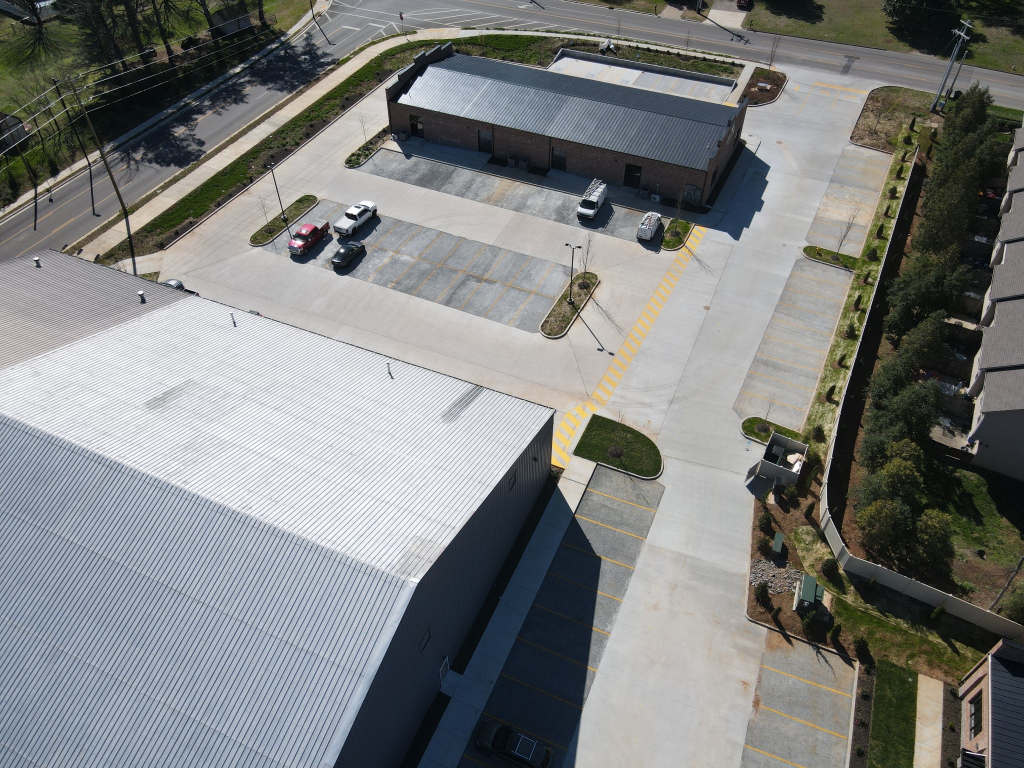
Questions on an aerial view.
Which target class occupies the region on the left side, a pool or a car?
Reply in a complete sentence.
There is a car on the left side.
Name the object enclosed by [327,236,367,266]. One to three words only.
car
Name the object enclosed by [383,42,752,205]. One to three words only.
building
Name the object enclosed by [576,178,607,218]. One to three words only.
van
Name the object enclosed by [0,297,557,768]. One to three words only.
warehouse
